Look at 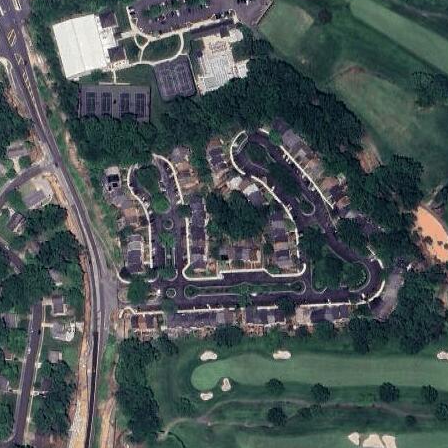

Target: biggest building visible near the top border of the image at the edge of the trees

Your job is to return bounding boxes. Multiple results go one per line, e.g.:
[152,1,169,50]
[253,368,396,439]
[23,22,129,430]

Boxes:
[52,14,107,78]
